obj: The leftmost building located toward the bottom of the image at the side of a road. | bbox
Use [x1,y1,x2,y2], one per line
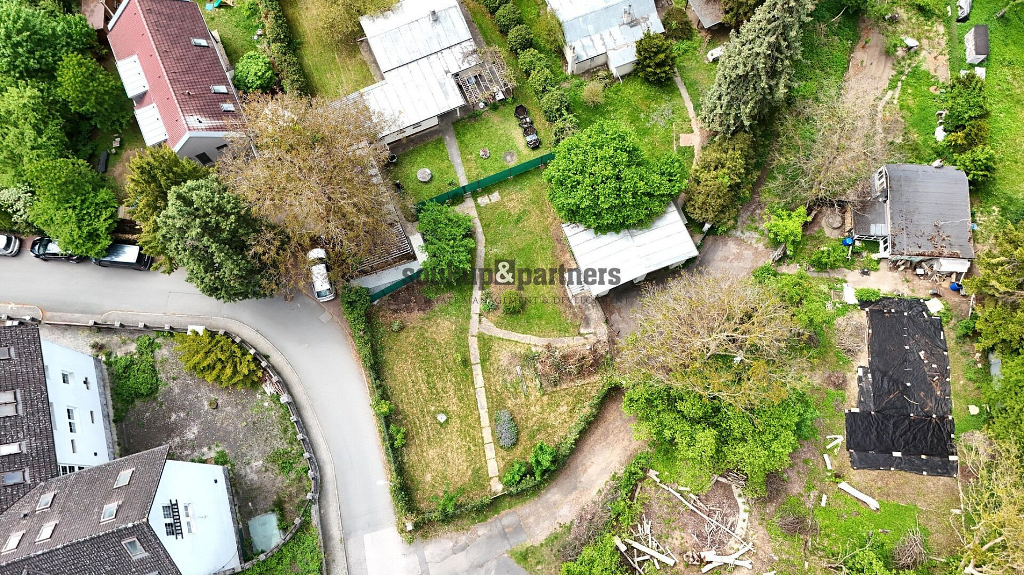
[0,329,107,499]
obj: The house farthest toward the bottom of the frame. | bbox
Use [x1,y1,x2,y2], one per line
[0,450,240,575]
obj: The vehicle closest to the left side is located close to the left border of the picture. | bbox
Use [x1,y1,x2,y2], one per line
[0,236,23,260]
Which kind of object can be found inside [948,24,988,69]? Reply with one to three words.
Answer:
shed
